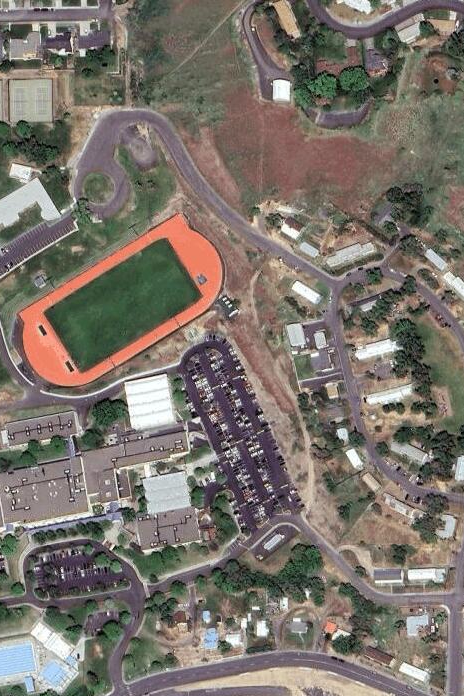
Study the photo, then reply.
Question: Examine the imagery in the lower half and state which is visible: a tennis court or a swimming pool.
swimming pool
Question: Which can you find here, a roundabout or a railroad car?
roundabout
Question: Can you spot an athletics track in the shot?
Yes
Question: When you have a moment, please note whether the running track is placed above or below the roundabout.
below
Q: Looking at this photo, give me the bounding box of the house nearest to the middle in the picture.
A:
[285,323,306,348]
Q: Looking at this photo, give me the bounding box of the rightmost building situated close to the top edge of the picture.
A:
[433,18,457,34]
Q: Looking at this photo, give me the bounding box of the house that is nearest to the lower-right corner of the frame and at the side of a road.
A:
[399,661,430,685]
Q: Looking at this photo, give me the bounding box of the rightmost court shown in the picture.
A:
[9,78,52,122]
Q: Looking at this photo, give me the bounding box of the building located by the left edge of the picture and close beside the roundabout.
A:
[0,178,61,229]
